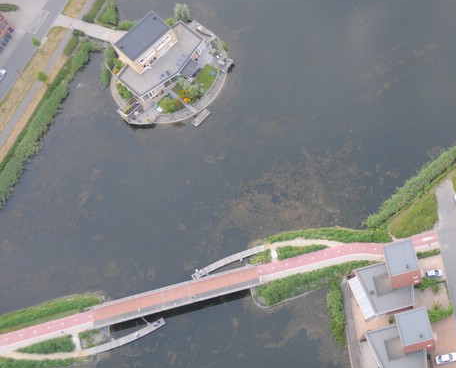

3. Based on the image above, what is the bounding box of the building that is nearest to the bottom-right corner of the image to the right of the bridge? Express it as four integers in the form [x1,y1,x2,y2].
[365,307,435,368]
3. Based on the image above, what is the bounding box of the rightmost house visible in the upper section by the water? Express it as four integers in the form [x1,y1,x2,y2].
[114,11,207,103]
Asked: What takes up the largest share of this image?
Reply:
water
